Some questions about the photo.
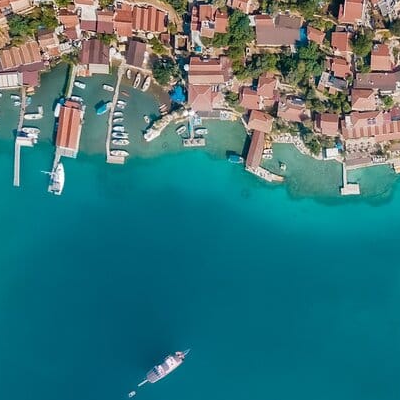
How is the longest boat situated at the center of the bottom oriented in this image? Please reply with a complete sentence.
From this overhead view, the longest boat situated at the center of the bottom appears to run diagonally.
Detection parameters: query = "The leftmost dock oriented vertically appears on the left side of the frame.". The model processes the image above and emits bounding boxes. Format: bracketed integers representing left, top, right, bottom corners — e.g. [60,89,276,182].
[14,86,34,186]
